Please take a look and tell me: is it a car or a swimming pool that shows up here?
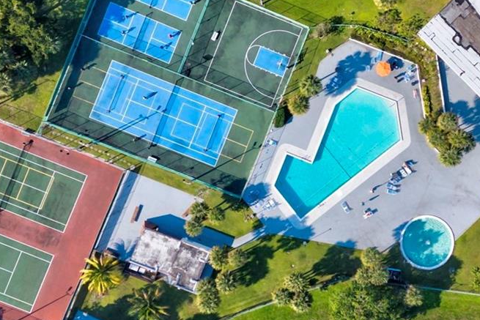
swimming pool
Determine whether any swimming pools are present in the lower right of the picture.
Yes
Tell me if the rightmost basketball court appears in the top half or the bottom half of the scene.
top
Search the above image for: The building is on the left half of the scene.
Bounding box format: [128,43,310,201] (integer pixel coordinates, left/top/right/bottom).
[120,229,208,295]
